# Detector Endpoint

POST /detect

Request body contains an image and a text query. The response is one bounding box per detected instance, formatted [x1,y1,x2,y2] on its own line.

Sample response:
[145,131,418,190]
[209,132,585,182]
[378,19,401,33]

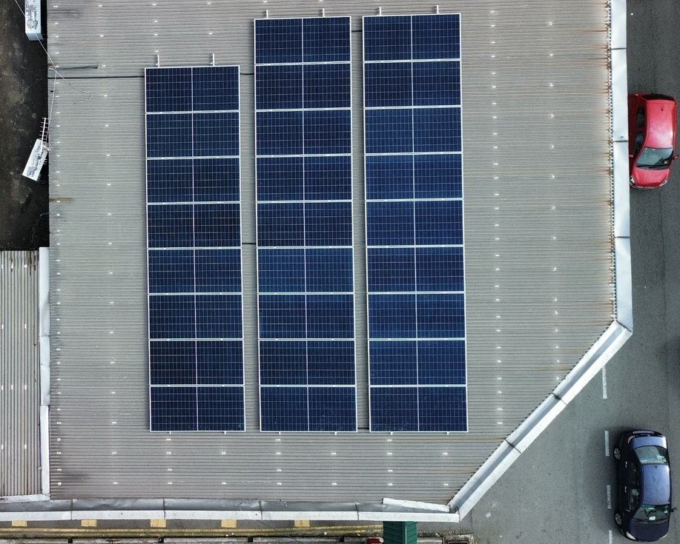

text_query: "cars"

[613,427,679,543]
[627,94,674,189]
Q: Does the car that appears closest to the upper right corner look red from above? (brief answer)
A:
Yes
